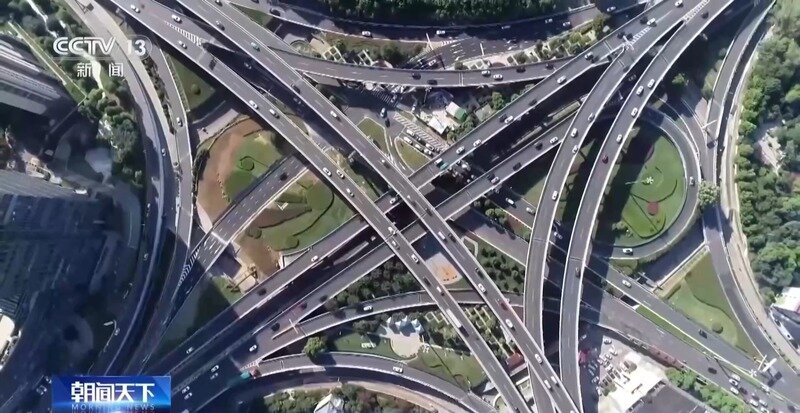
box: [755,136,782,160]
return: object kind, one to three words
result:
building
